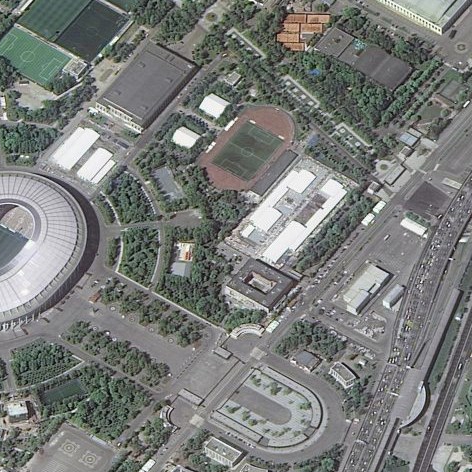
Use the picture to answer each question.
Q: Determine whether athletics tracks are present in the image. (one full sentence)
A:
Yes, looking at the shot, I can spot an athletics track.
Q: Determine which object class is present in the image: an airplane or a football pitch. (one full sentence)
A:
Visible in the photo is a football pitch.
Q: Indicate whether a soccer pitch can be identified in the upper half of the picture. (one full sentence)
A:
Yes, a soccer pitch is visible in the upper half of the picture.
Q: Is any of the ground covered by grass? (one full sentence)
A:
Yes, the picture does contain grass.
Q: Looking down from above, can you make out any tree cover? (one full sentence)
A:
Yes, some tree cover is visible.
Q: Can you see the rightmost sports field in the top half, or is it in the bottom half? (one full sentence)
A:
The rightmost sports field sits in the top half of the picture.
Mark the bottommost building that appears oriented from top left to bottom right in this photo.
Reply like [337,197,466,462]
[206,437,243,466]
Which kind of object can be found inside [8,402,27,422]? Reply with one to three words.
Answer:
building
